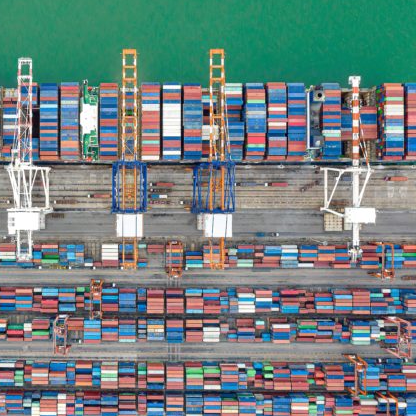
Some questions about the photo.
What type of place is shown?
port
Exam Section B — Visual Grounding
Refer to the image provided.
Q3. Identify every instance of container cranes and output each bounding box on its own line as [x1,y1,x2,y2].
[185,49,235,270]
[377,313,412,358]
[361,239,396,280]
[90,275,107,317]
[3,56,52,262]
[163,236,182,276]
[336,346,368,395]
[53,311,72,354]
[307,73,377,263]
[111,49,148,270]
